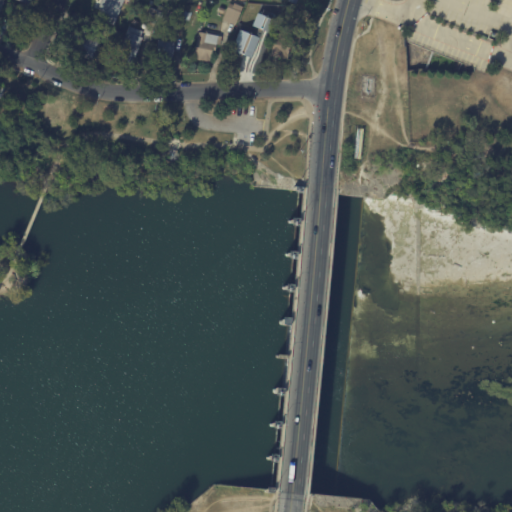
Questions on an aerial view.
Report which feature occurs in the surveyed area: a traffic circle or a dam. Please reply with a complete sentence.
Looking from above, you can make out a dam.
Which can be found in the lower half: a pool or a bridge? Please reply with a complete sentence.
Visible in the lower half is a bridge.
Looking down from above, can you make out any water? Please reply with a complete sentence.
Yes, there is water in the image.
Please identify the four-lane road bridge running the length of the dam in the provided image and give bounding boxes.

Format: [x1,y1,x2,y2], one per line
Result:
[276,187,338,494]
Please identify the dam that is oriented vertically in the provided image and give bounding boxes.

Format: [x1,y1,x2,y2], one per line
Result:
[266,186,362,494]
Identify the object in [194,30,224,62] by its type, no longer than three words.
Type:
house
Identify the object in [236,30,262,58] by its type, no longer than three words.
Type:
house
